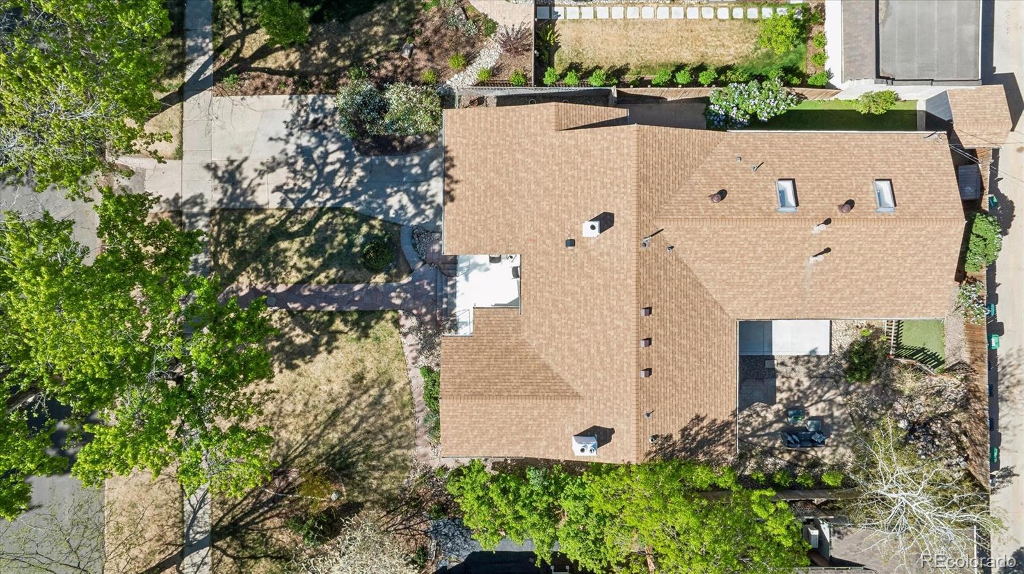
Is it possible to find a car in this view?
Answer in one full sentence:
No, no car can be seen from above.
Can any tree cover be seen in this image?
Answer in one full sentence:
Yes, there's tree cover in this view.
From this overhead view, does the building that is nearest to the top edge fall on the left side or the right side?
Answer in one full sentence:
You can find the building that is nearest to the top edge on the right side of the picture.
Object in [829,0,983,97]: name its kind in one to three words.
building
